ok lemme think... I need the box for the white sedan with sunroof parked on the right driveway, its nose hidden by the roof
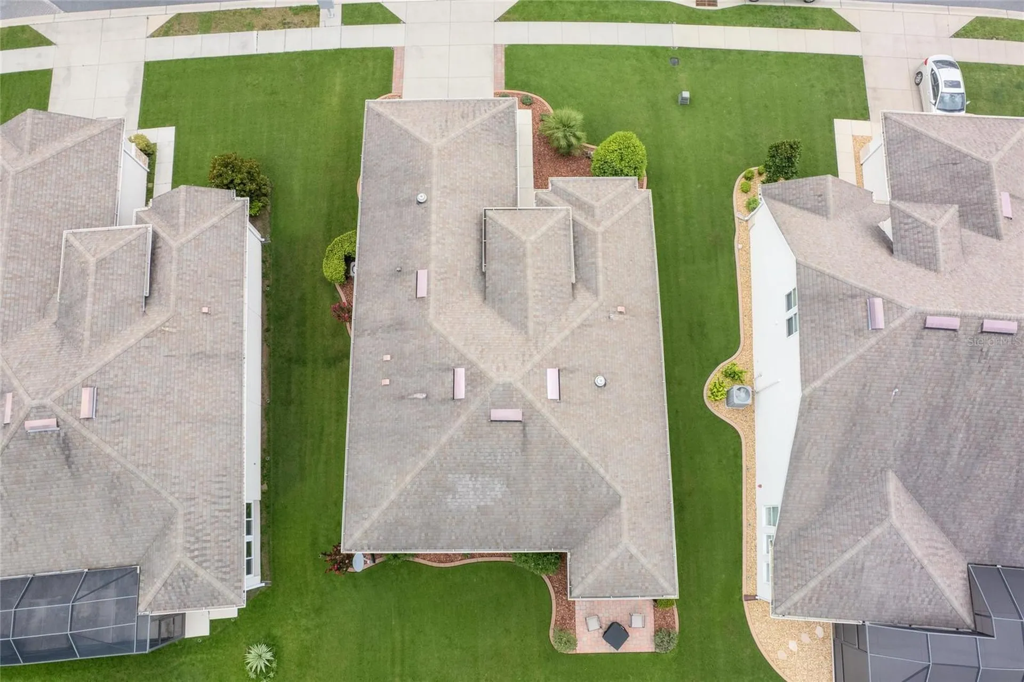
[917,55,974,116]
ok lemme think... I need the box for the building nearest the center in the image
[341,98,678,599]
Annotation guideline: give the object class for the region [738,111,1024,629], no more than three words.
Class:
house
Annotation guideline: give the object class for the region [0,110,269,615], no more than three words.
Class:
house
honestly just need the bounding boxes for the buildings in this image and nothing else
[738,111,1024,629]
[341,98,678,599]
[0,110,269,615]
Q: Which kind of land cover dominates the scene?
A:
buildings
